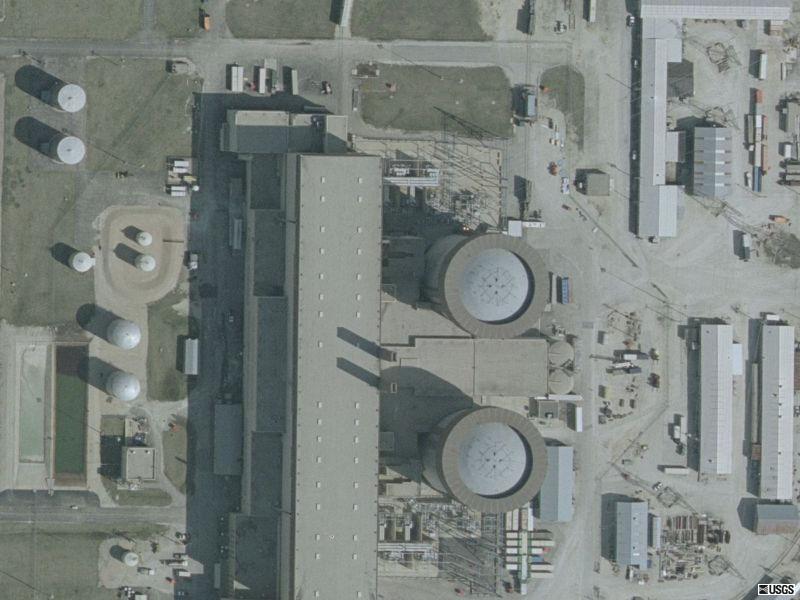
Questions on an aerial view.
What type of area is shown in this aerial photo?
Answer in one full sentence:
This image shows an industrial area.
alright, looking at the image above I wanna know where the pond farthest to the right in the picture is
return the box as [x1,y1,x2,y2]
[55,343,89,489]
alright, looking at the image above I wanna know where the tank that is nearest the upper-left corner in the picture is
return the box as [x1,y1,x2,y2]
[48,82,86,115]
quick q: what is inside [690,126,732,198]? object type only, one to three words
building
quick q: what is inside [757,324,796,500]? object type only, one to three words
building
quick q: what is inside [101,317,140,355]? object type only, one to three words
storage tank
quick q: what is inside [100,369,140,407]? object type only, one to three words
storage tank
